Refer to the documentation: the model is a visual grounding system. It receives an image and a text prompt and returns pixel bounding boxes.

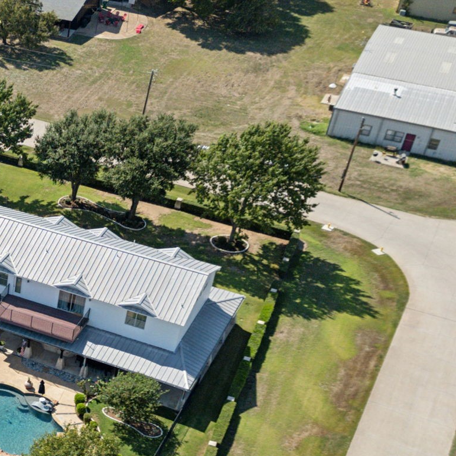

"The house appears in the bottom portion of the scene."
[0,209,241,406]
